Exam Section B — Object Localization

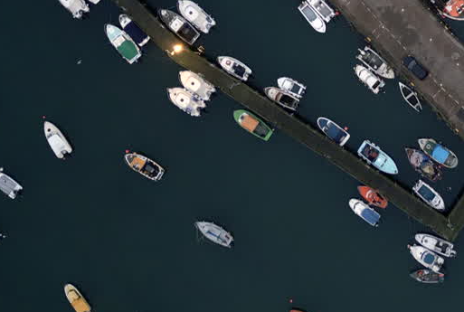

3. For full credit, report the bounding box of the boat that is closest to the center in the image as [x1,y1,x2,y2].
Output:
[233,109,277,145]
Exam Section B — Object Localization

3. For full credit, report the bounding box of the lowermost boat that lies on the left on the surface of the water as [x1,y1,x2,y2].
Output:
[63,285,94,312]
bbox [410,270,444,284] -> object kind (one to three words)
boat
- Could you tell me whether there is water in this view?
Yes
